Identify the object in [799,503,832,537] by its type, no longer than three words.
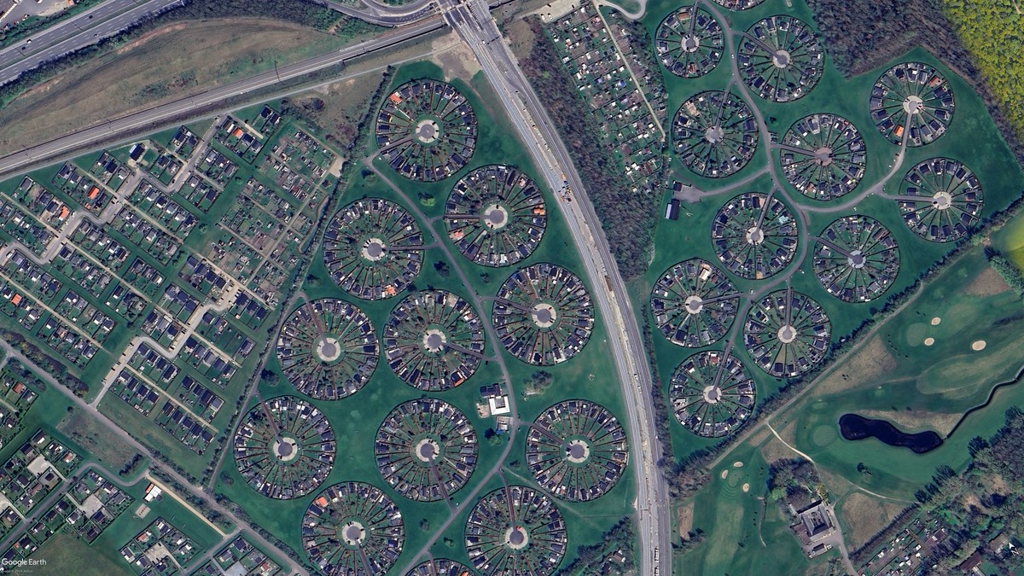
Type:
building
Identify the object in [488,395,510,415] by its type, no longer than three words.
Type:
building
